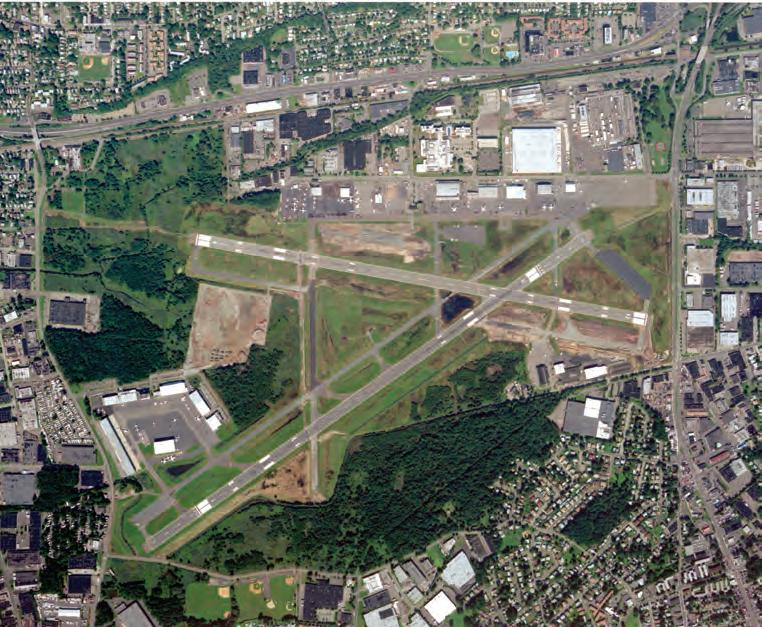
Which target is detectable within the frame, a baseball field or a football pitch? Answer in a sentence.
The image shows a baseball field.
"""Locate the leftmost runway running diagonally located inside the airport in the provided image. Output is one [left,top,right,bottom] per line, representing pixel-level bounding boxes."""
[146,229,592,551]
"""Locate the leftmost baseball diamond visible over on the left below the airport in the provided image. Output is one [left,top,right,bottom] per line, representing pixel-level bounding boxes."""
[186,583,231,622]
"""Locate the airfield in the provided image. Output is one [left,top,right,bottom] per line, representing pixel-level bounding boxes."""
[109,178,657,553]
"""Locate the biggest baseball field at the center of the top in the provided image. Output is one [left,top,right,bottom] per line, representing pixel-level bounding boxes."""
[432,32,475,52]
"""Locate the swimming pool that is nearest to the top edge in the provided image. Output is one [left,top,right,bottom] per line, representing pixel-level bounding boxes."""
[504,44,519,60]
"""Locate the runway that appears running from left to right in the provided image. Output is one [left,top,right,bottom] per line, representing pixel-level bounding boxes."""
[195,234,649,326]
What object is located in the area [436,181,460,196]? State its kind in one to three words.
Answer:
hangar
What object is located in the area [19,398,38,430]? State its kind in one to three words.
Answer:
building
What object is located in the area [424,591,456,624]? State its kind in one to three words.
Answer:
building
